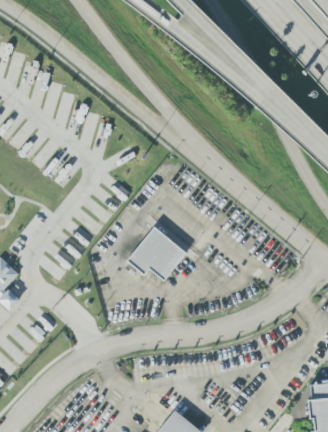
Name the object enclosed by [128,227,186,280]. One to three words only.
building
